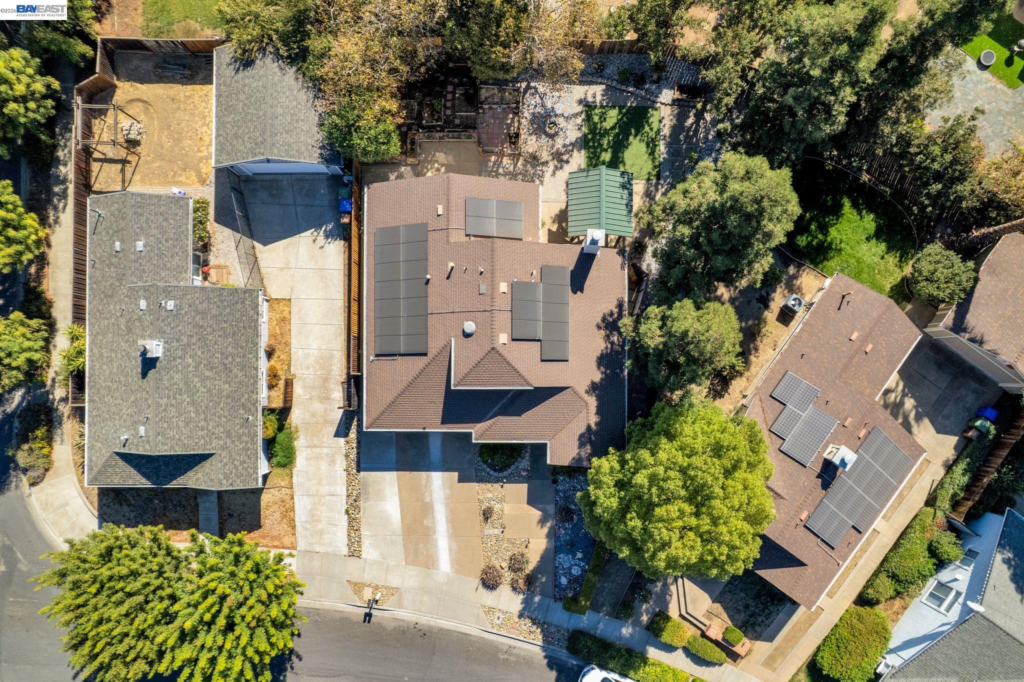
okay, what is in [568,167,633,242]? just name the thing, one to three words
building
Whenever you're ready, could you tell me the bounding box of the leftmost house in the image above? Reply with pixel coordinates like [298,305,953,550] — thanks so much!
[81,190,274,488]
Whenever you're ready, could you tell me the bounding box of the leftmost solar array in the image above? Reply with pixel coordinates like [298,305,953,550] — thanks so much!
[375,223,428,354]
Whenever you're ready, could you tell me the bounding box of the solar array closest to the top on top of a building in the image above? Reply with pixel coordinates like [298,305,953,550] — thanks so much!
[466,197,523,238]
